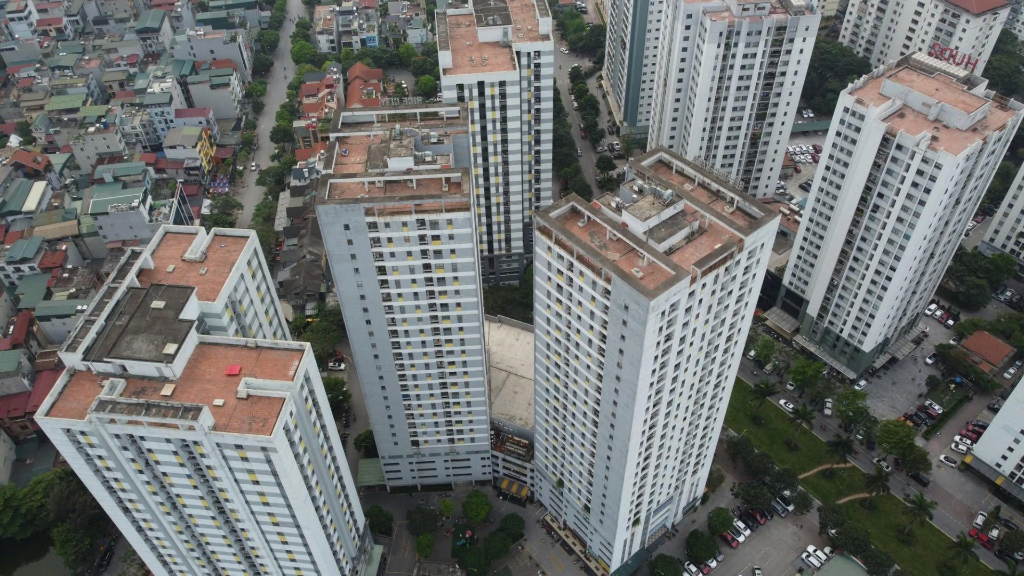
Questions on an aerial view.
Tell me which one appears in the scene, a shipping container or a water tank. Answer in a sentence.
Looking from above, you can make out a water tank.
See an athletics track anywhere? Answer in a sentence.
No, the picture doesn't show any athletics track.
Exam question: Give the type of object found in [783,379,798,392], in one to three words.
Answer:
vehicle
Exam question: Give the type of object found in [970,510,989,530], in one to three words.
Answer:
car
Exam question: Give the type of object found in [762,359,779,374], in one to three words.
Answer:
car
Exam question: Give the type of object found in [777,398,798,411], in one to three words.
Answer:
vehicle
